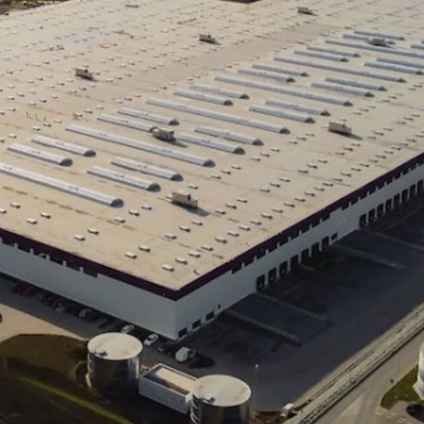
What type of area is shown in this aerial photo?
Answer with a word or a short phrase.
industrial area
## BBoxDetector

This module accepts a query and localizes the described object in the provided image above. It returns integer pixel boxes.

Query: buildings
[0,0,424,339]
[138,361,198,415]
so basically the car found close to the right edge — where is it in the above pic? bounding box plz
[406,399,424,415]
